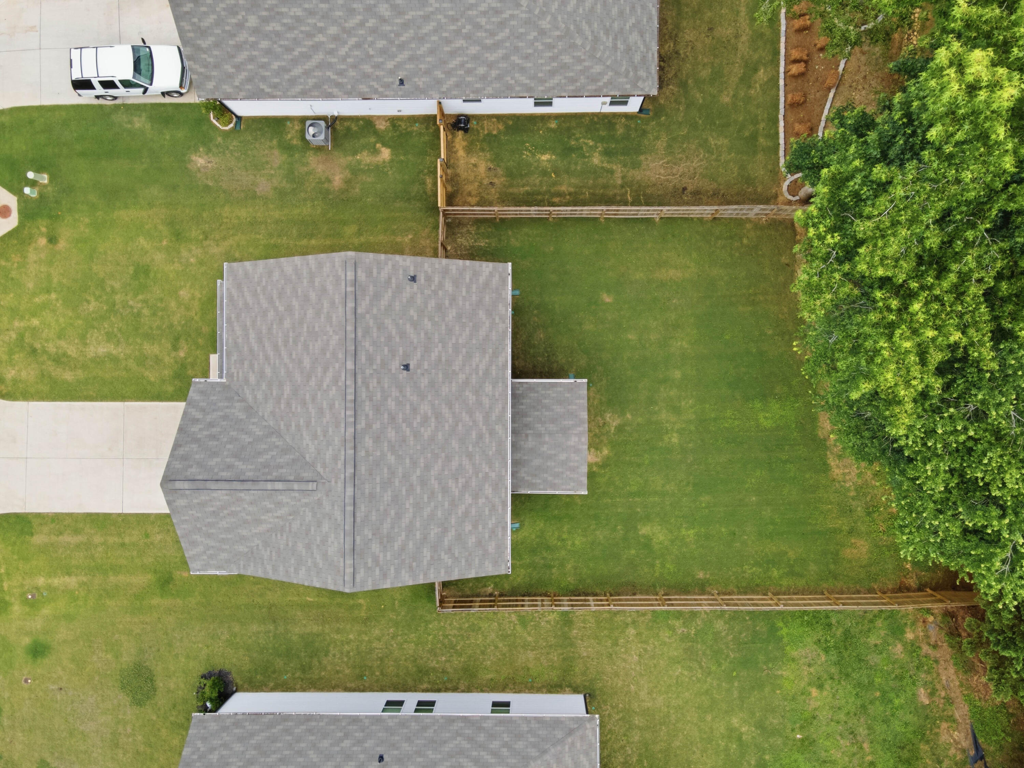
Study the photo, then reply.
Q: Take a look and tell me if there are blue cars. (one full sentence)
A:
No, this view has no blue car in it.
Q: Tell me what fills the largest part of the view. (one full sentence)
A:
The largest share of the image is taken up by grass.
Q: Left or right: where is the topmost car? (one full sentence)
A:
It is on the left.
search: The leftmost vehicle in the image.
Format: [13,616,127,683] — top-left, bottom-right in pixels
[69,38,194,102]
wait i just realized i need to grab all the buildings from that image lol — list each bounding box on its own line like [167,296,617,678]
[162,252,588,593]
[181,688,599,768]
[171,0,659,118]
